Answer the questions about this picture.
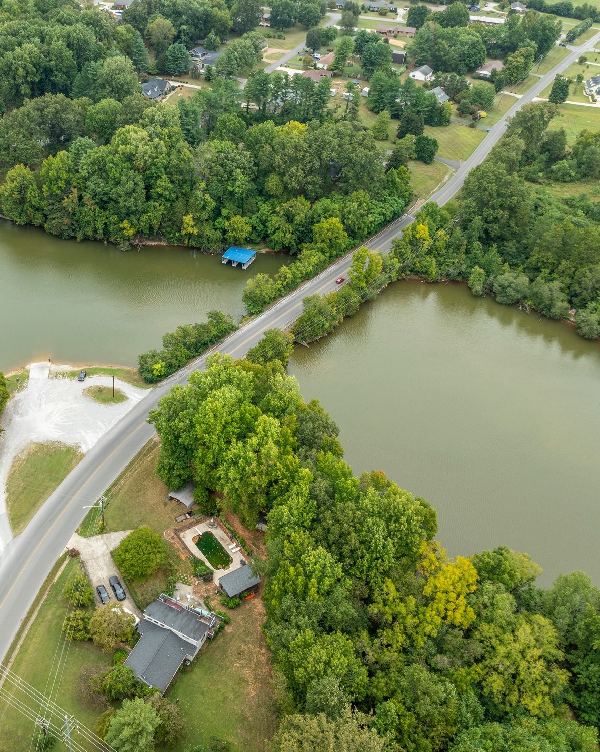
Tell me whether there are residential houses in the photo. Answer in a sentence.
Yes, there's a residential house down there.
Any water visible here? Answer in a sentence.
Yes, there's water in this view.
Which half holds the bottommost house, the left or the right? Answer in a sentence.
You can find the bottommost house on the left side of the picture.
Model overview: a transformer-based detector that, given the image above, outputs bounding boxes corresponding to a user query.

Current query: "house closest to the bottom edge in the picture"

[129,587,229,697]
